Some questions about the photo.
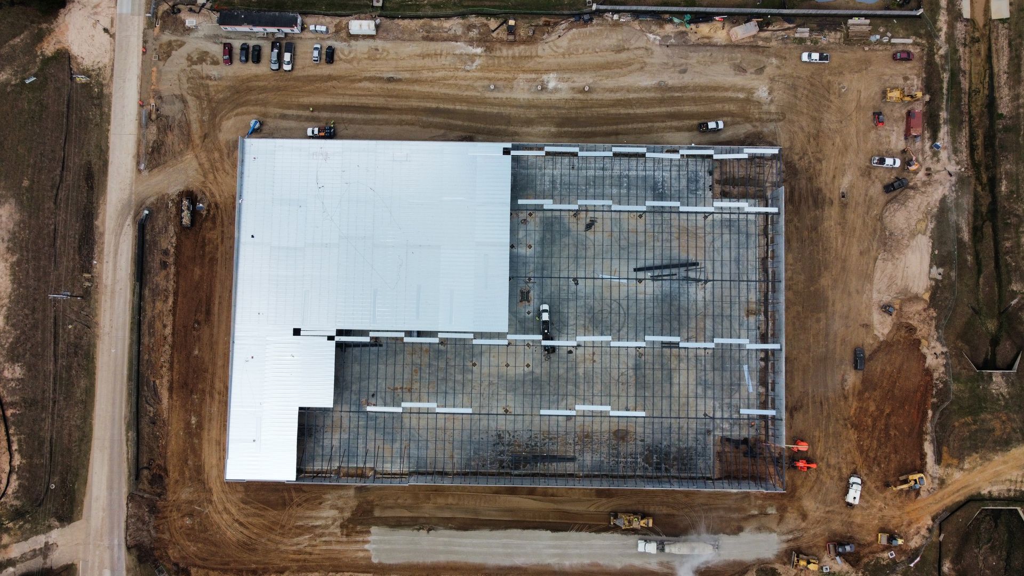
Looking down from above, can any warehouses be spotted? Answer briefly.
Yes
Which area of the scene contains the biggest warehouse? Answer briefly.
center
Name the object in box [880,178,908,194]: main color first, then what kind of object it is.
black vehicle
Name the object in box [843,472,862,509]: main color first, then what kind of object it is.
white vehicle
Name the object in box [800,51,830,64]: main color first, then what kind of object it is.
white vehicle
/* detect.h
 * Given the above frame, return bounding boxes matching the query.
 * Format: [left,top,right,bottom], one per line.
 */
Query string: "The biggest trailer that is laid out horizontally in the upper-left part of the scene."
[219,10,303,36]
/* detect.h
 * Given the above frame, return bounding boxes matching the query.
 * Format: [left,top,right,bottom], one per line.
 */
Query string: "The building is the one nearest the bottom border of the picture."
[226,135,785,492]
